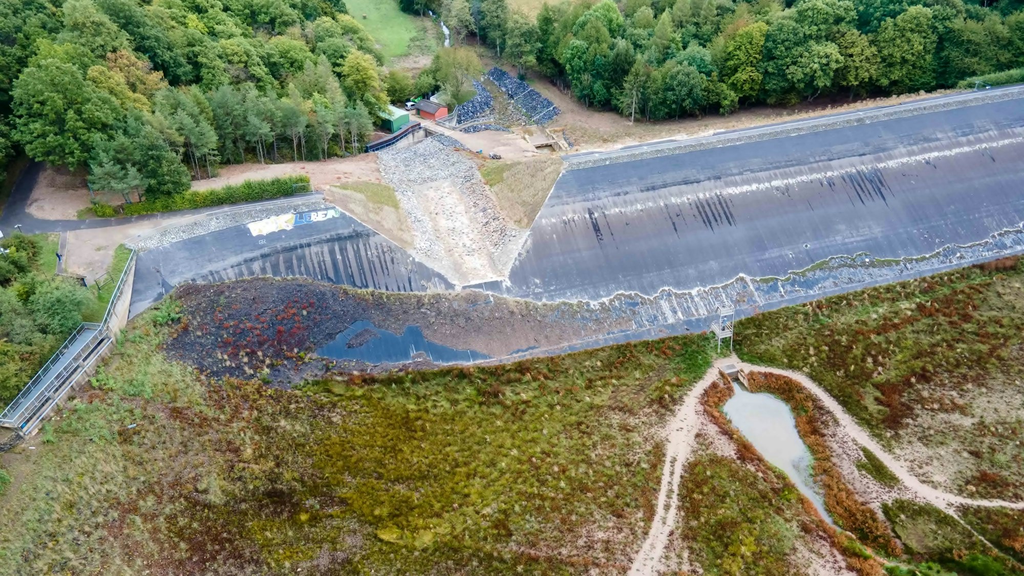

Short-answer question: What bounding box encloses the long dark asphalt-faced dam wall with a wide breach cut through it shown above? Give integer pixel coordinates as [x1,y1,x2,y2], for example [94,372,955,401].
[122,88,1024,365]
